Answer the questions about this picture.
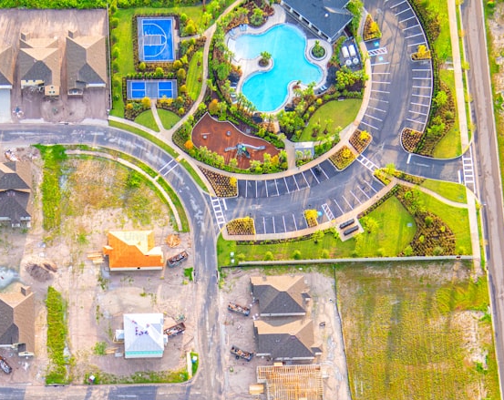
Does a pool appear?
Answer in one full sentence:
Yes, you can see a pool in this photo.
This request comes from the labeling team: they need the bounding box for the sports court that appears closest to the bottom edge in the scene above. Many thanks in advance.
[126,79,177,99]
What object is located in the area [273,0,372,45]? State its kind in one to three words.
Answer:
building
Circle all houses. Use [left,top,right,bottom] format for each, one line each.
[250,276,312,318]
[0,284,34,358]
[255,366,325,400]
[103,231,163,274]
[64,29,107,98]
[0,46,12,92]
[114,313,169,358]
[18,31,60,98]
[0,159,31,230]
[253,320,322,364]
